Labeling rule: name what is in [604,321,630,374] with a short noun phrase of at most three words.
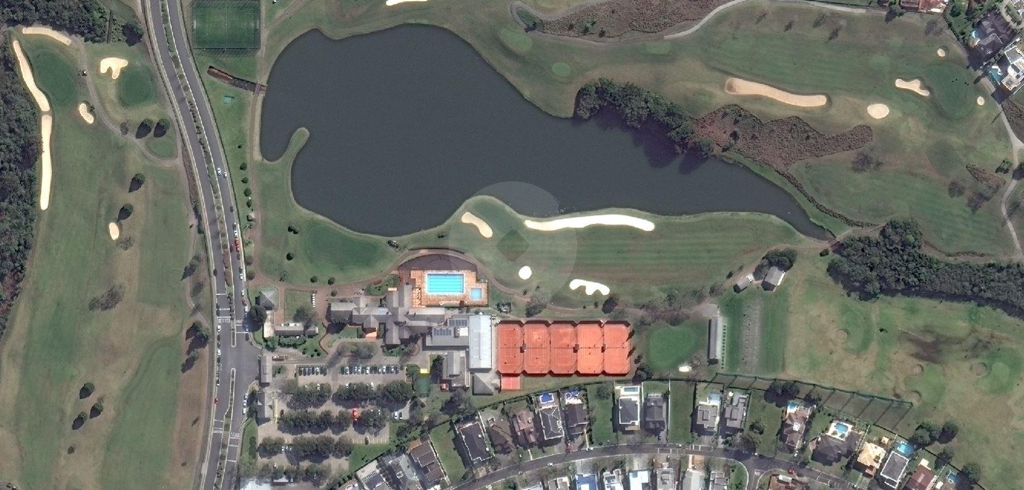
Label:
tennis court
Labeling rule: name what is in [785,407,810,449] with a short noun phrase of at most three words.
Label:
house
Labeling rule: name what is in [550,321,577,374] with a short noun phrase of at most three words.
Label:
tennis court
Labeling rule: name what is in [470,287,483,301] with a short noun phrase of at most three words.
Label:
swimming pool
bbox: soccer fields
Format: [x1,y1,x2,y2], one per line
[193,2,260,48]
